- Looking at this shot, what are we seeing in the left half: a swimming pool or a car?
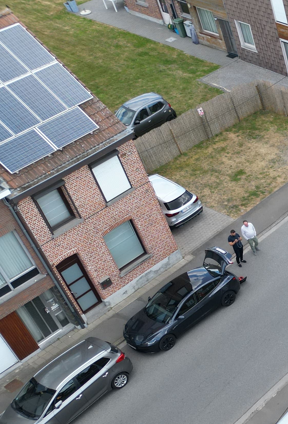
car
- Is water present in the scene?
No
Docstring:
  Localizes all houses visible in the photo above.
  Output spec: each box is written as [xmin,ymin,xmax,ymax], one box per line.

[182,0,288,77]
[0,8,186,328]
